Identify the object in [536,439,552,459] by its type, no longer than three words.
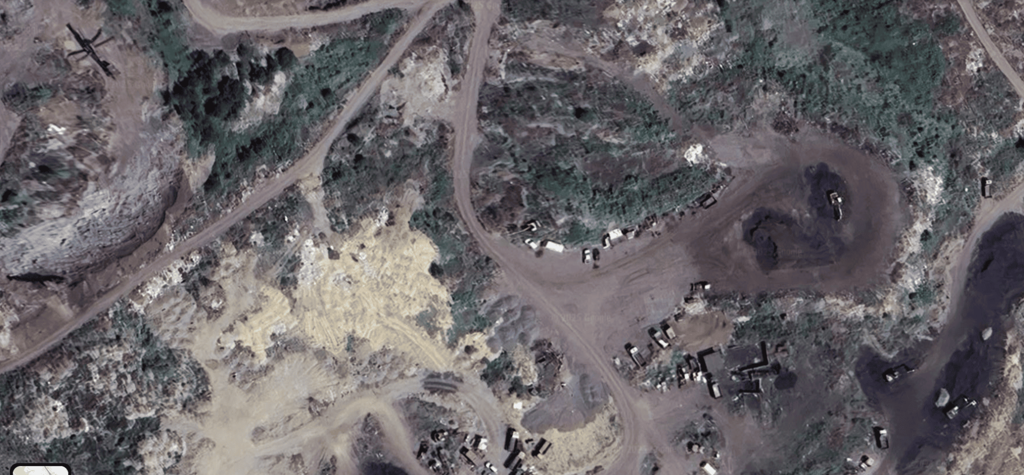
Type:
vehicle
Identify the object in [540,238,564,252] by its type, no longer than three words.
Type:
vehicle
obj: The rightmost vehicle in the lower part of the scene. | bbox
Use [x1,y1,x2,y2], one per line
[945,401,974,420]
